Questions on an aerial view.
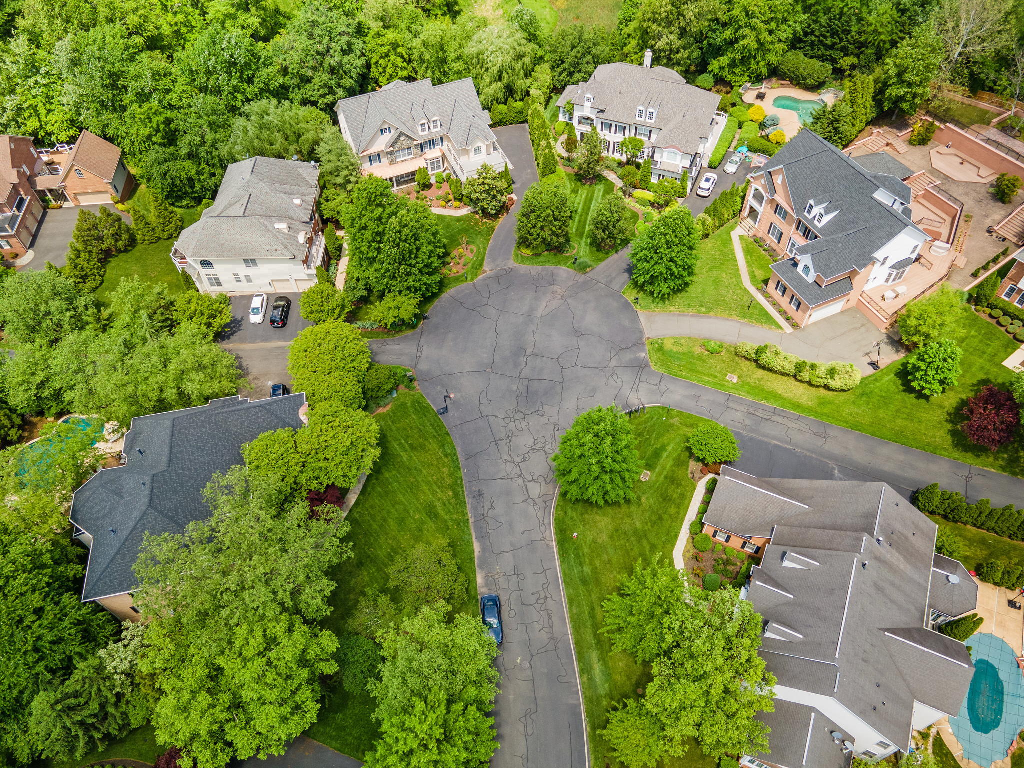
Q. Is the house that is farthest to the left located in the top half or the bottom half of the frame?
top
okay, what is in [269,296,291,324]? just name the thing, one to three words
car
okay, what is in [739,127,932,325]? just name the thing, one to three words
house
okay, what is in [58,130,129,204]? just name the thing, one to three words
building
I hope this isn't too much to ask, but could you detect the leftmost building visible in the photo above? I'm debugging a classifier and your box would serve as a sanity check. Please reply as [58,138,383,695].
[0,135,75,253]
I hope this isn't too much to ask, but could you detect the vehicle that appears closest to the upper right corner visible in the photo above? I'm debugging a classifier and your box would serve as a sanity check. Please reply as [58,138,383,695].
[725,151,746,171]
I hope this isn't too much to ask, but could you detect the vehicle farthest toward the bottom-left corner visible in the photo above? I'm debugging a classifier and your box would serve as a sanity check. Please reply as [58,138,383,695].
[266,378,286,398]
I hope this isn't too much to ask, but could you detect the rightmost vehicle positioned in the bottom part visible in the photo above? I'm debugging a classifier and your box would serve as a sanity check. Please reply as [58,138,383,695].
[481,593,505,644]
